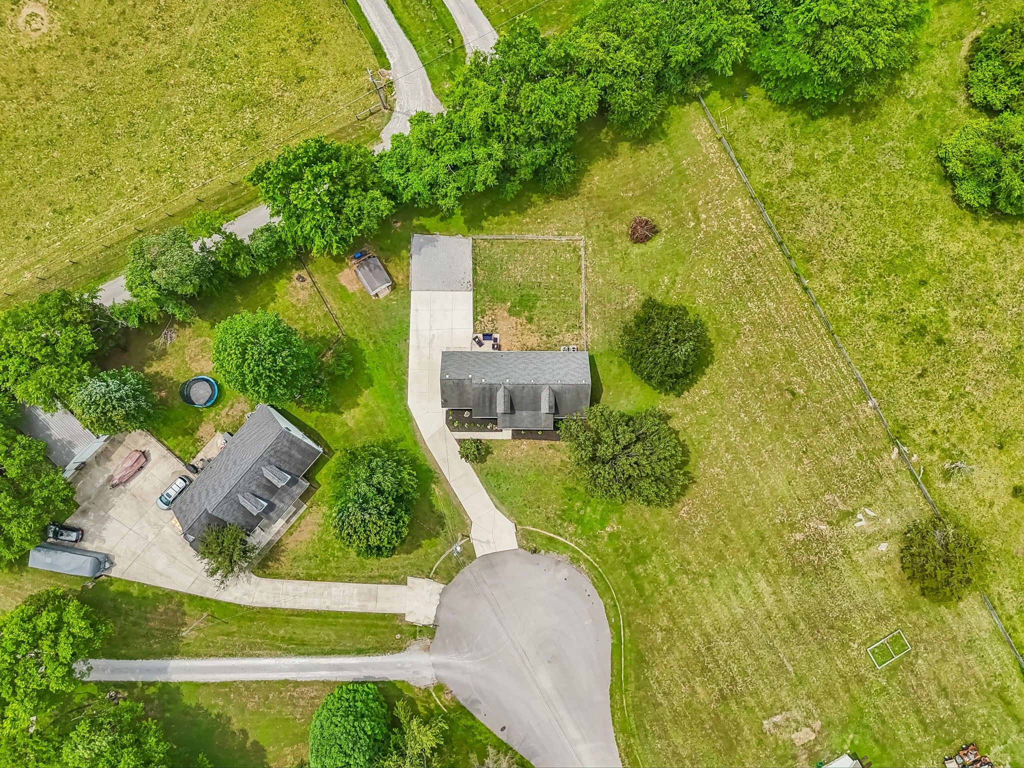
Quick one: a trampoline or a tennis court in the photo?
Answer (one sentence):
There is a trampoline in the scene.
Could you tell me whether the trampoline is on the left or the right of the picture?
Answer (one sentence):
You can find the trampoline on the left side of the picture.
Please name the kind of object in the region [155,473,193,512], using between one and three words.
car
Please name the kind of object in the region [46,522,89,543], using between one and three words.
car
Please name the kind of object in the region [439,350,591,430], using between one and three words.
house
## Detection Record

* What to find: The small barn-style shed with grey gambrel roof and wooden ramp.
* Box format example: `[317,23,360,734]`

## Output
[353,253,391,298]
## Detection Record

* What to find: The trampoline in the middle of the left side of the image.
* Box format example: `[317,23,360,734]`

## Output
[176,375,216,408]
